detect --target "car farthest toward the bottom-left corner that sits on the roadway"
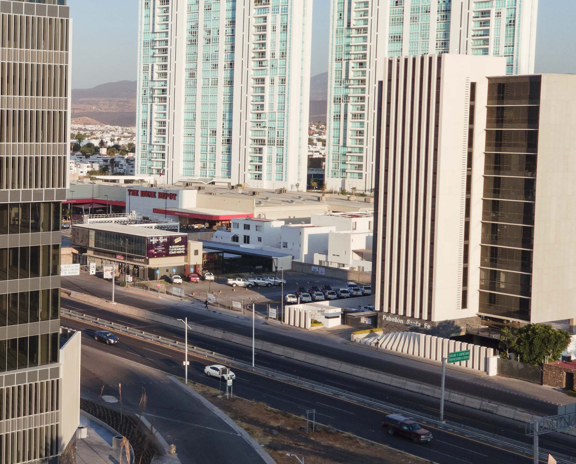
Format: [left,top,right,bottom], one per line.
[93,329,119,344]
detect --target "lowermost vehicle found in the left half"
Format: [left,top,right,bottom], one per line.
[203,365,236,381]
